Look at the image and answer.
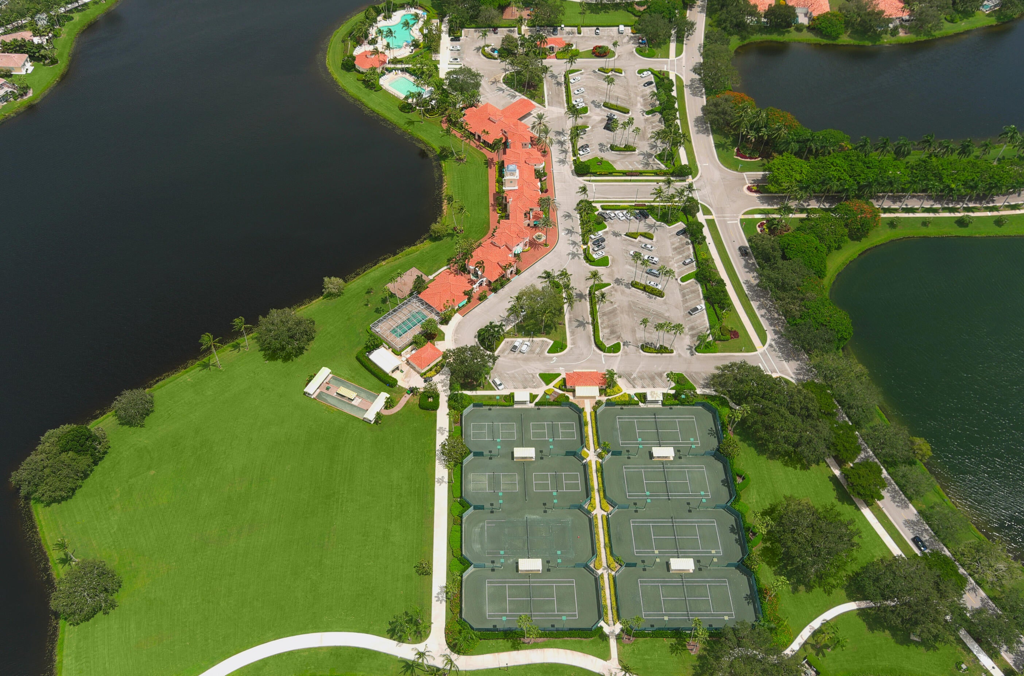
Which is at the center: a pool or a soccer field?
pool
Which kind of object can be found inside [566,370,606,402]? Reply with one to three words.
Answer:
building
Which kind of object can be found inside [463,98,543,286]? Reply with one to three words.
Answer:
building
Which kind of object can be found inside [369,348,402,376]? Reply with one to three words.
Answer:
shed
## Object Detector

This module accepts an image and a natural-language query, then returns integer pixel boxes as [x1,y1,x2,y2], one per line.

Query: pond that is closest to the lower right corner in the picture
[832,238,1024,565]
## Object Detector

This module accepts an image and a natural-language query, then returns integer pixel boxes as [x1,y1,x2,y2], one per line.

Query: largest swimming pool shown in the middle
[391,310,428,338]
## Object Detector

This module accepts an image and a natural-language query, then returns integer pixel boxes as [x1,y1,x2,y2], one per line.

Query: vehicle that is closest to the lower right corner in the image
[912,535,927,553]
